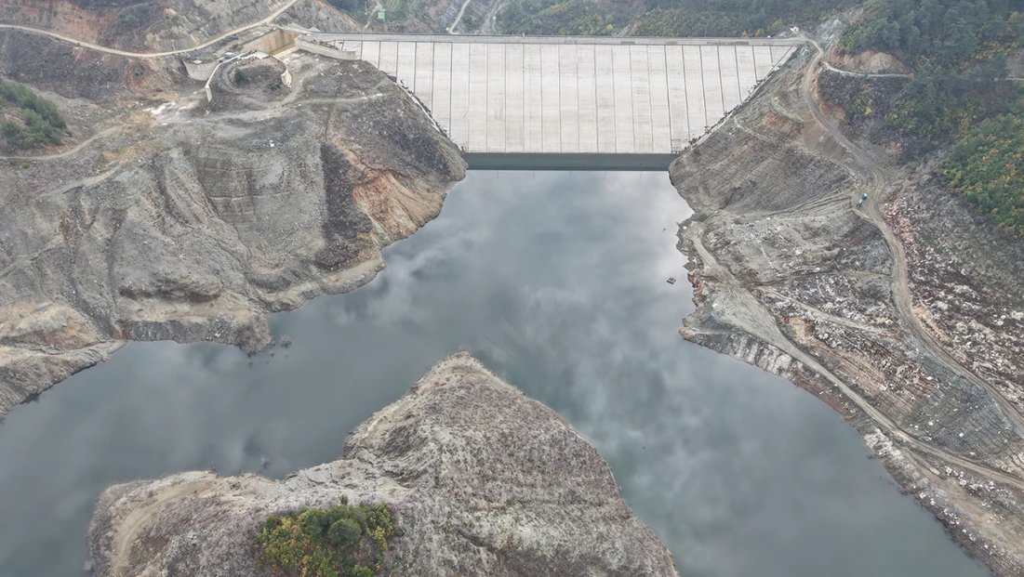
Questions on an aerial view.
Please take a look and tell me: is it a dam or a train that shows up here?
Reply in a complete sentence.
The image shows a dam.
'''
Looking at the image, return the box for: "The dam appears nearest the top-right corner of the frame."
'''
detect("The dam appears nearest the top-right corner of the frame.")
[295,31,799,154]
